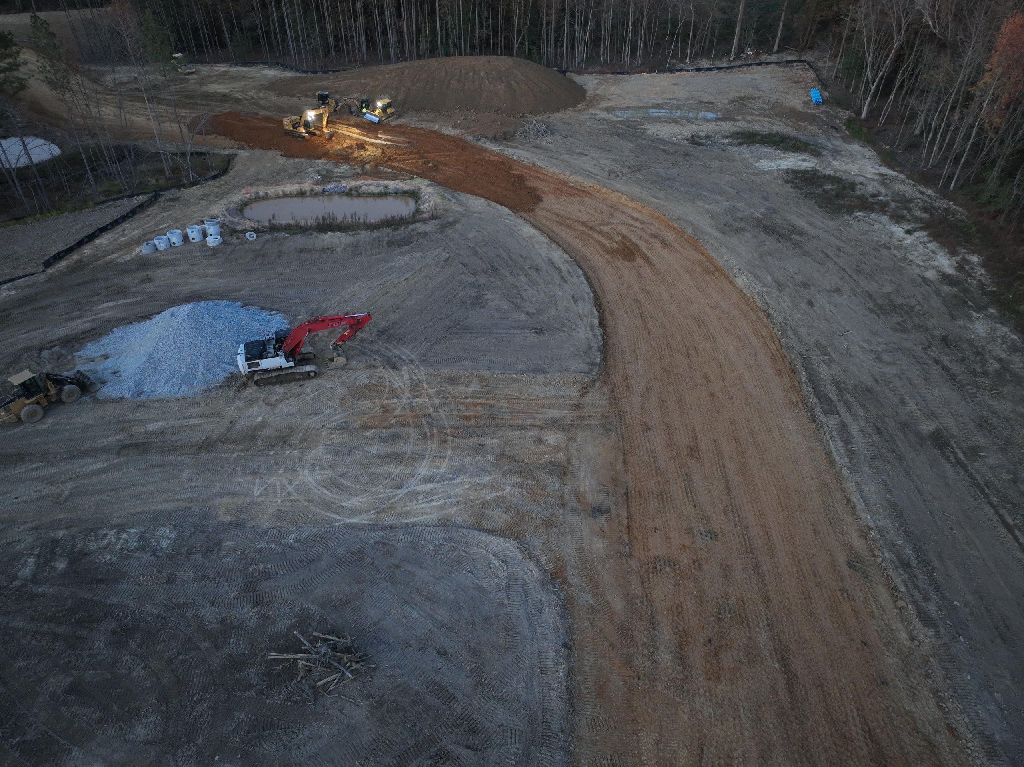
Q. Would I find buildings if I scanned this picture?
No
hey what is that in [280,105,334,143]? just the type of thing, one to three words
work vehicle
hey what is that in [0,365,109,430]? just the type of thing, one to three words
work vehicle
